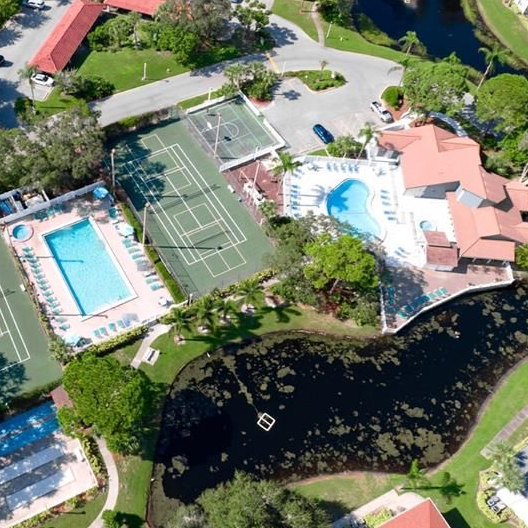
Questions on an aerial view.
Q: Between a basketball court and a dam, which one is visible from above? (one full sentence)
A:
Visible in the photo is a basketball court.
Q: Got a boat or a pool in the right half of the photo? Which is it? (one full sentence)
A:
The feature located in the right half of the photo is a pool.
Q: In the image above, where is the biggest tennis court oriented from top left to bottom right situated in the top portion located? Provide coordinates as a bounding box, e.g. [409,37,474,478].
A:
[100,118,279,295]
